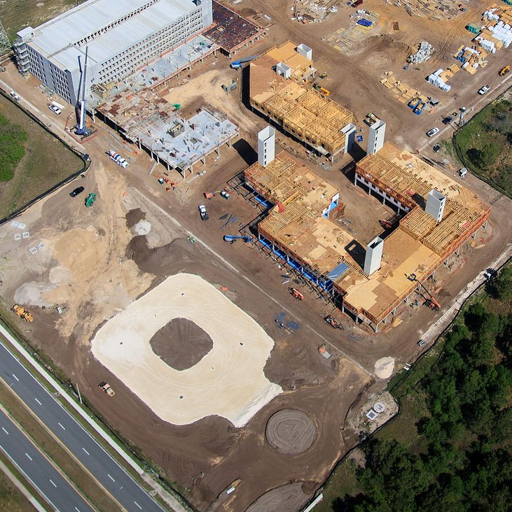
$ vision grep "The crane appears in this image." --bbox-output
[71,44,97,141]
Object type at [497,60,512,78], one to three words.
work vehicle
